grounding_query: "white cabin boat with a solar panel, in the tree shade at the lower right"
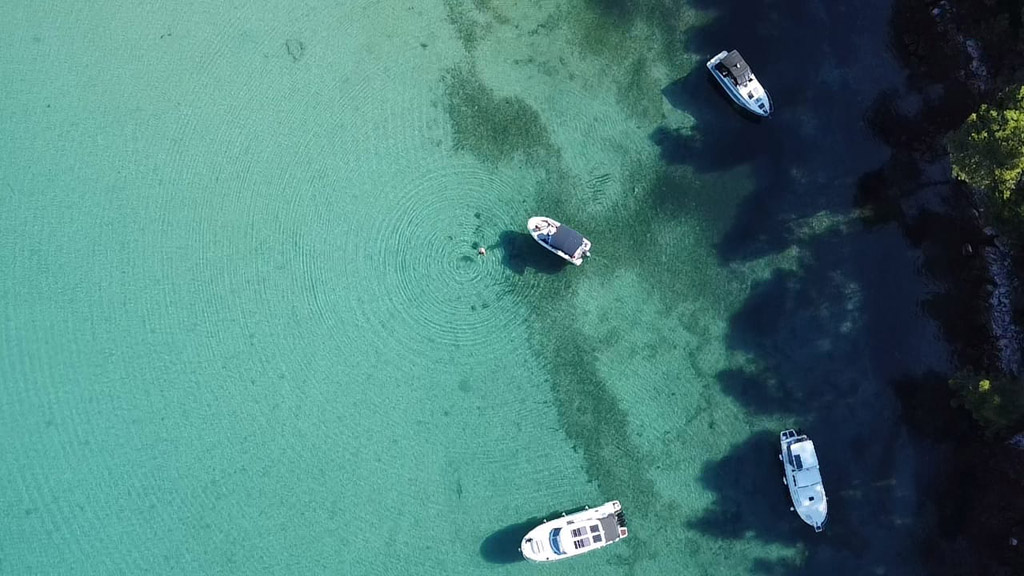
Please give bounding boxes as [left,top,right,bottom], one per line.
[776,429,830,532]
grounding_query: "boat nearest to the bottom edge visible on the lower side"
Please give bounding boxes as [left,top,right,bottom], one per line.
[518,501,629,561]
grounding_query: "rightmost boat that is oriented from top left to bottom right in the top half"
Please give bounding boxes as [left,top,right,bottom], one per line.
[707,51,771,117]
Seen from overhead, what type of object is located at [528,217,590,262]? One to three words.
boat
